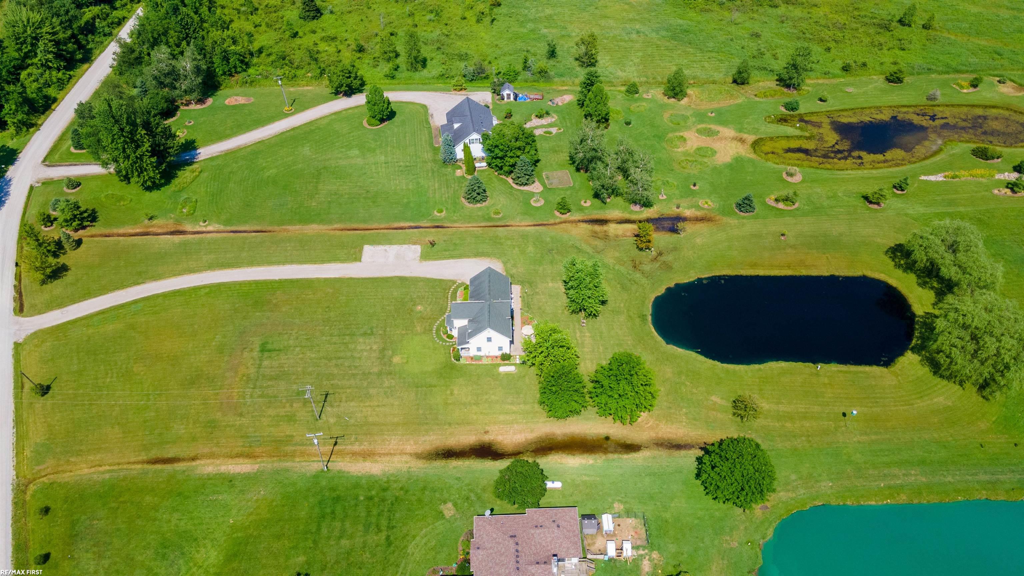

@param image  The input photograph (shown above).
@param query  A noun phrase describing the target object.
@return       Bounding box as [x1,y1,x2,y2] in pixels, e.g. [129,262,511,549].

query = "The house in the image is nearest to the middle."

[446,267,512,357]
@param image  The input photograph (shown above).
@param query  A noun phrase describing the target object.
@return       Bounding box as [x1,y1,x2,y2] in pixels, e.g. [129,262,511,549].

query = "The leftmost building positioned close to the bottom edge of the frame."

[468,508,584,576]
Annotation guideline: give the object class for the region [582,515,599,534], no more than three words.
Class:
shed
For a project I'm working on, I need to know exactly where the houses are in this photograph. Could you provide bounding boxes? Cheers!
[439,96,498,159]
[446,267,512,357]
[468,508,584,576]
